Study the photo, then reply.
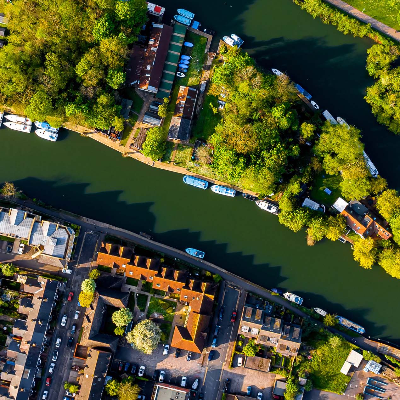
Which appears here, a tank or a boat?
boat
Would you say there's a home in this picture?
Yes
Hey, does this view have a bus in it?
No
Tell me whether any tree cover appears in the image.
Yes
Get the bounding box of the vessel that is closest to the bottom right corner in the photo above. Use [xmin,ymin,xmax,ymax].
[335,314,365,334]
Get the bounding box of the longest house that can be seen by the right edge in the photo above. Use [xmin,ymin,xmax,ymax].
[329,196,392,241]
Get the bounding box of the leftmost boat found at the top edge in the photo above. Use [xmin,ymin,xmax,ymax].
[150,1,166,17]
